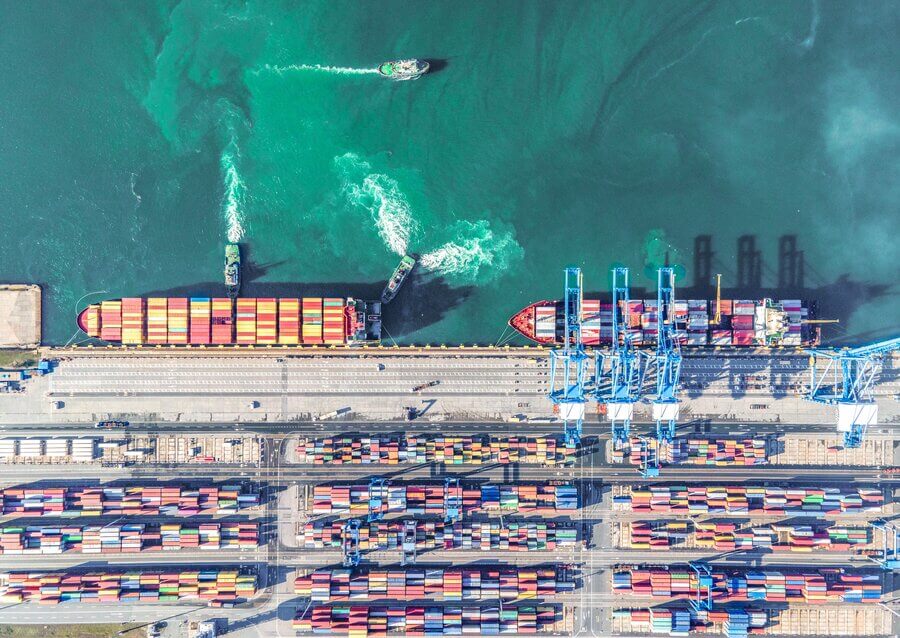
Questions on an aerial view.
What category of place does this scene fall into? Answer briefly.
port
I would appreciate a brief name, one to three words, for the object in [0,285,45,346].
pier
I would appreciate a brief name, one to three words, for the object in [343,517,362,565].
crane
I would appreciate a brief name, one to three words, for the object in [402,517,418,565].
crane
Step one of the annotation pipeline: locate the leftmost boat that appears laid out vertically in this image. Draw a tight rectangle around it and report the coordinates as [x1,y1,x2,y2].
[224,244,242,297]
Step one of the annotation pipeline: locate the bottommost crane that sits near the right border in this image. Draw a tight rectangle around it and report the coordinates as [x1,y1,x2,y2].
[868,520,898,571]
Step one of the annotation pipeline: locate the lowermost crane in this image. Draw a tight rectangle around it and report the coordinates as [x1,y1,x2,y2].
[687,560,712,611]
